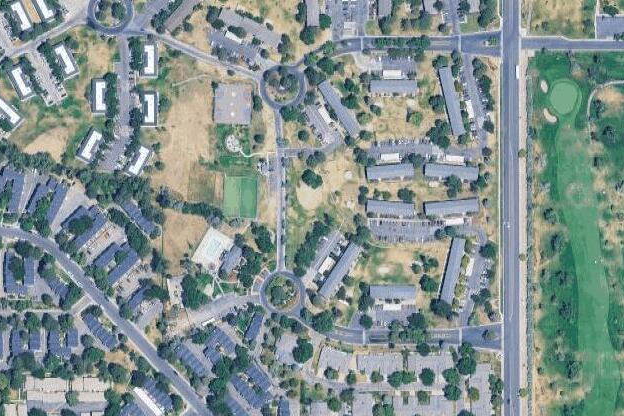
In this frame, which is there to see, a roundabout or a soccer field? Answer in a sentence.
Visible in the photo is a roundabout.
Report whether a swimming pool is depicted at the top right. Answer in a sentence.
No, looking at the top right, there is no swimming pool.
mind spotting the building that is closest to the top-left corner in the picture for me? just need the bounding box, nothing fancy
[8,0,33,31]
